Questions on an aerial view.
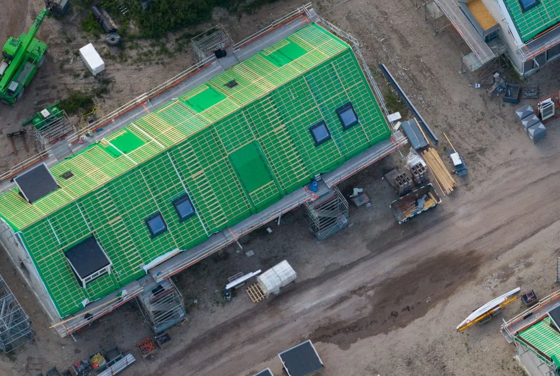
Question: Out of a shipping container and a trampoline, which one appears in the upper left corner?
shipping container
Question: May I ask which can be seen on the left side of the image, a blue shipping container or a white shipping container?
white shipping container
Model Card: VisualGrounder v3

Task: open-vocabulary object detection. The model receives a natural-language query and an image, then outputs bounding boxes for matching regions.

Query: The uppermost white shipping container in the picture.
[78,44,106,76]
